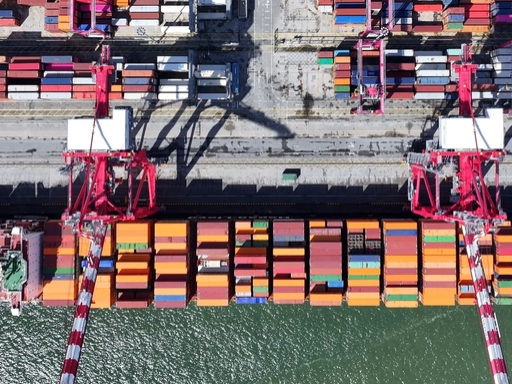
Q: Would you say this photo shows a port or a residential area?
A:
port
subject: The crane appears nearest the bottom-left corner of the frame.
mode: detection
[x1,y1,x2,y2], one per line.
[57,47,167,384]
